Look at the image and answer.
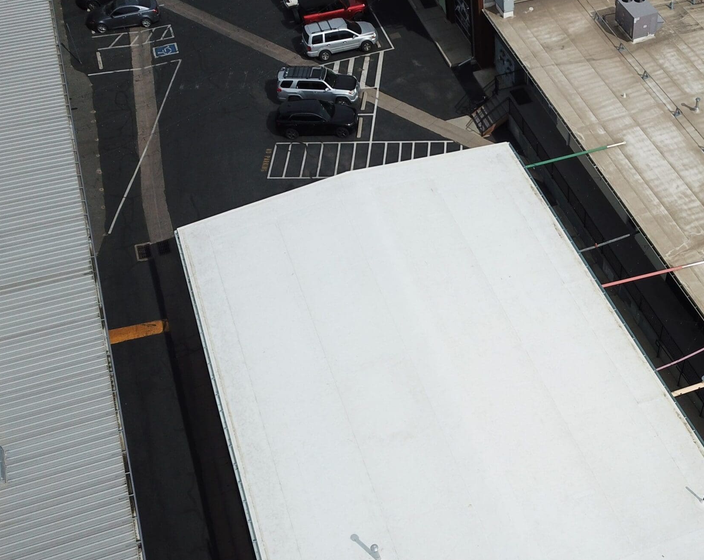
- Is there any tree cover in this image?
No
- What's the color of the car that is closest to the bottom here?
black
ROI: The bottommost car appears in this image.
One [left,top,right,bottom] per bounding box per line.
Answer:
[271,94,361,139]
